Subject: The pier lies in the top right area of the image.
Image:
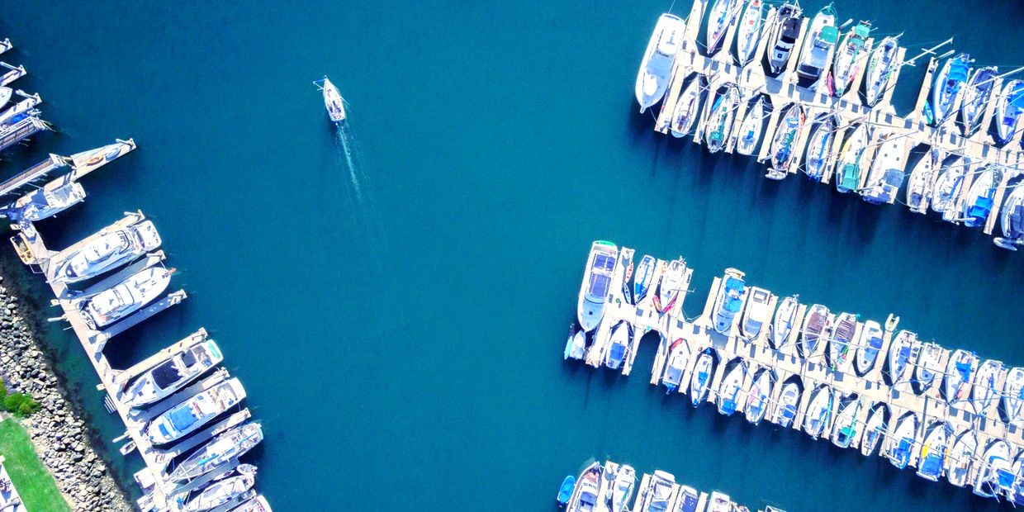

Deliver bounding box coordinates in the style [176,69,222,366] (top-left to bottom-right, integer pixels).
[654,0,1024,243]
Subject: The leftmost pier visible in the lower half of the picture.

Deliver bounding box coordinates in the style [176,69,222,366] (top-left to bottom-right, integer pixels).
[10,139,258,512]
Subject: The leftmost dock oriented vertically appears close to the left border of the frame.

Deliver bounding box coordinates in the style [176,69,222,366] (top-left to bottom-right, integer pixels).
[0,38,43,136]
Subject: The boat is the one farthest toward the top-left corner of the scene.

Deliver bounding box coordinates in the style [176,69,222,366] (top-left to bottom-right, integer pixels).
[0,86,22,112]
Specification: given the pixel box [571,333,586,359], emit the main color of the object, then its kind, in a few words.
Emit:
white boat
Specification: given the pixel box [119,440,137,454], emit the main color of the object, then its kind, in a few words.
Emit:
white boat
